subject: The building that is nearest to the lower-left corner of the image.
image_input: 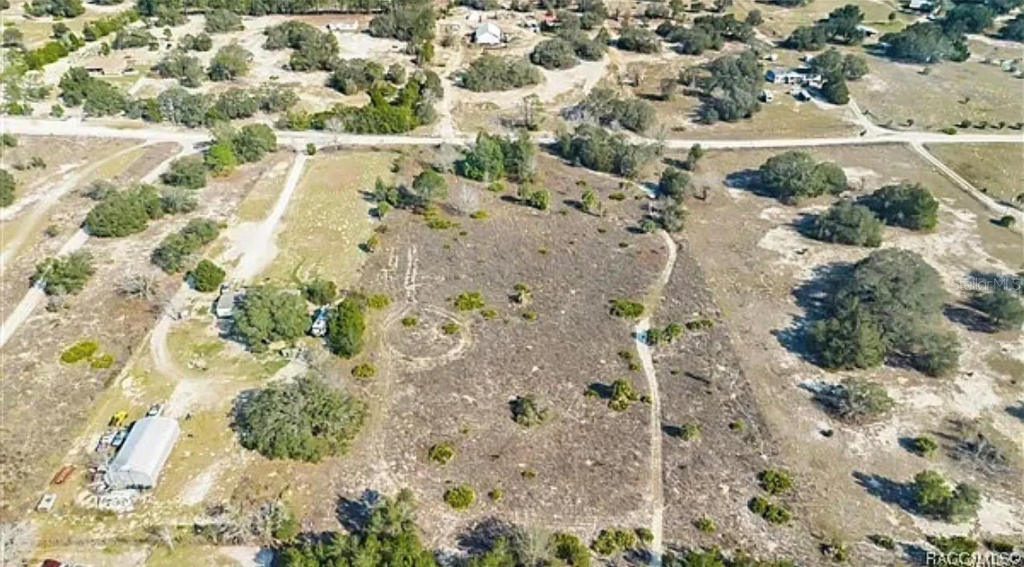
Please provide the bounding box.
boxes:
[102,421,183,489]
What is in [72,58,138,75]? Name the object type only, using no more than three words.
house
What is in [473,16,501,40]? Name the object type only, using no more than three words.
building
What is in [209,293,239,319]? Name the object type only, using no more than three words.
shed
